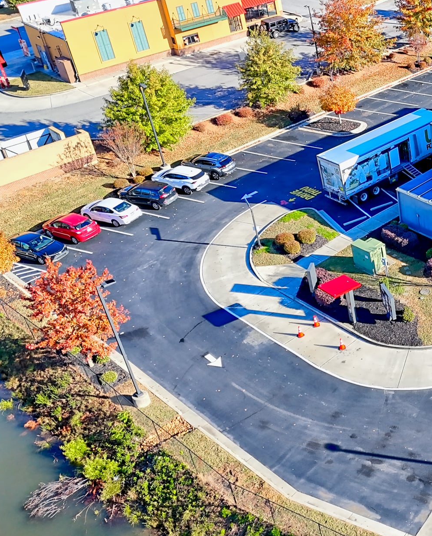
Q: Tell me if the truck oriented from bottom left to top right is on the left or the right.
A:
right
